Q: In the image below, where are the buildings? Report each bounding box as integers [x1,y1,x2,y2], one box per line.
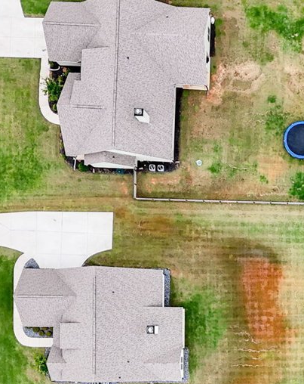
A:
[15,267,186,382]
[42,0,212,170]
